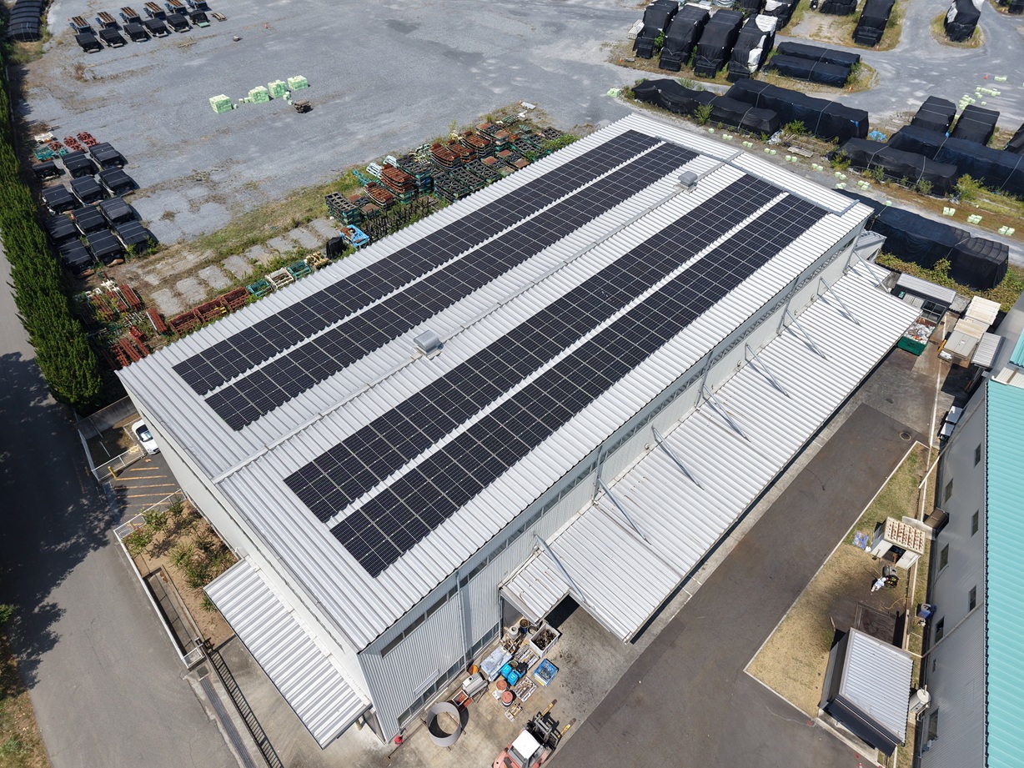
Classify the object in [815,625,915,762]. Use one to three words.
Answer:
shed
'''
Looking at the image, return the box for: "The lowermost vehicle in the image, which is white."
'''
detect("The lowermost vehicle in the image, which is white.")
[493,700,576,768]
